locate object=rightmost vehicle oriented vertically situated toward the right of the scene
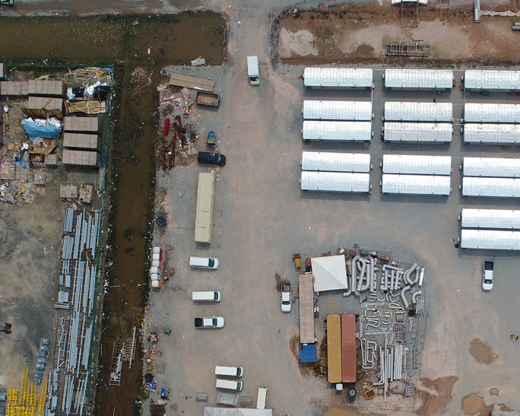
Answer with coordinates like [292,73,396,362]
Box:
[481,261,494,291]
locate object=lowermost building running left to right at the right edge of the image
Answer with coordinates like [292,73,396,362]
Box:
[458,229,520,252]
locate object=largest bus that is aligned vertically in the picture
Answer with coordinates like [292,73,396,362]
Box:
[196,172,217,245]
